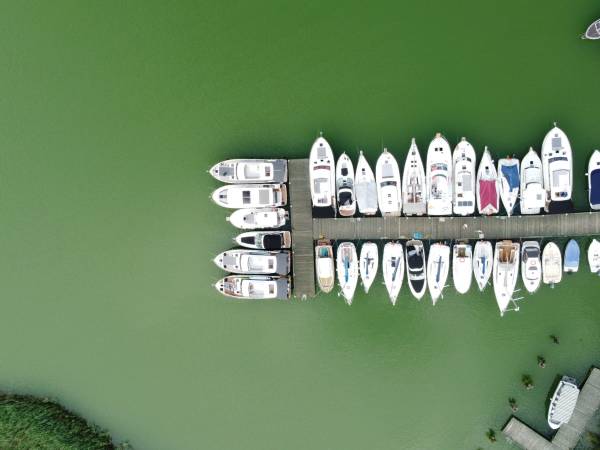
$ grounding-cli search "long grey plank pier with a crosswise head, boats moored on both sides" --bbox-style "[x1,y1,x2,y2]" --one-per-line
[288,158,600,298]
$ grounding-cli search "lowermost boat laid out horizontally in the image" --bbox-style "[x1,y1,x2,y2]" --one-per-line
[210,274,296,300]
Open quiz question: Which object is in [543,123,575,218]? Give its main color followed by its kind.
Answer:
white boat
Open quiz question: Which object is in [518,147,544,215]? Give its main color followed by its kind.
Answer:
white boat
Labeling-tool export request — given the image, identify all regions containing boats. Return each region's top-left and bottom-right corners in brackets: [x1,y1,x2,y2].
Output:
[452,137,476,220]
[382,240,404,307]
[426,240,450,306]
[497,156,522,217]
[425,131,452,220]
[543,123,575,218]
[520,236,542,294]
[316,240,336,294]
[210,274,296,300]
[542,239,562,288]
[205,159,294,183]
[233,231,298,249]
[491,237,524,318]
[564,236,580,277]
[453,239,472,294]
[582,22,600,39]
[518,147,544,215]
[376,148,403,222]
[472,236,492,293]
[401,135,427,221]
[335,151,356,221]
[226,208,291,228]
[208,183,294,210]
[587,235,600,277]
[359,240,379,295]
[550,374,582,429]
[309,132,336,219]
[405,240,427,301]
[336,238,359,306]
[209,250,298,274]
